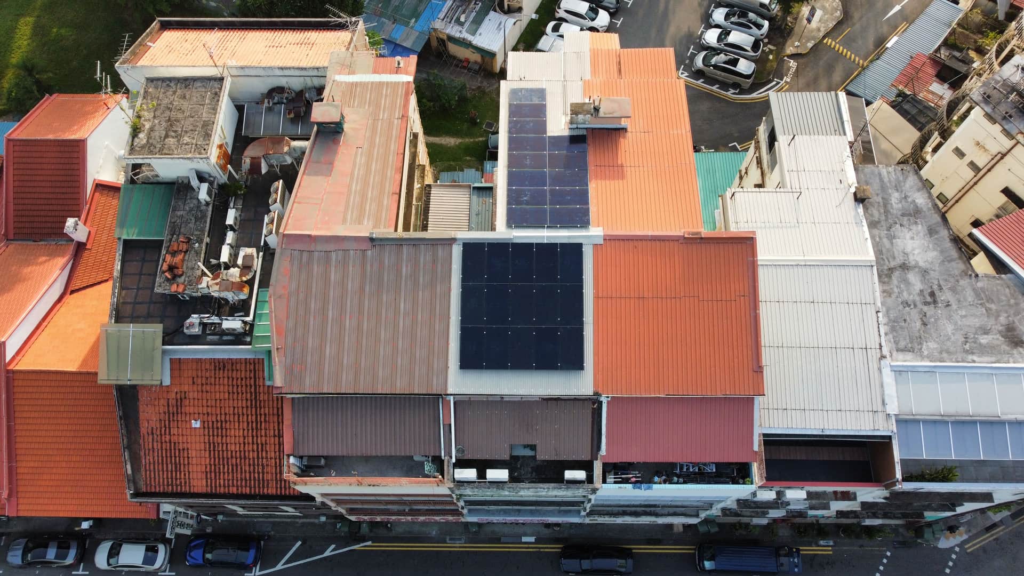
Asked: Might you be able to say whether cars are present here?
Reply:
Yes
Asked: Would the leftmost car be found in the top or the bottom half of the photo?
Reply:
bottom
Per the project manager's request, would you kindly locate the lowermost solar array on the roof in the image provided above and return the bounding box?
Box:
[459,242,586,370]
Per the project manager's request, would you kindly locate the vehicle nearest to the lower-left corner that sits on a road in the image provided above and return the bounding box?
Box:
[4,535,88,570]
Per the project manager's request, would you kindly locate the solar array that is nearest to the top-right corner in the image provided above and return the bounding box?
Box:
[507,87,589,229]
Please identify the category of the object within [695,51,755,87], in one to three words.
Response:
car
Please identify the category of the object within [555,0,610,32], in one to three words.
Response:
car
